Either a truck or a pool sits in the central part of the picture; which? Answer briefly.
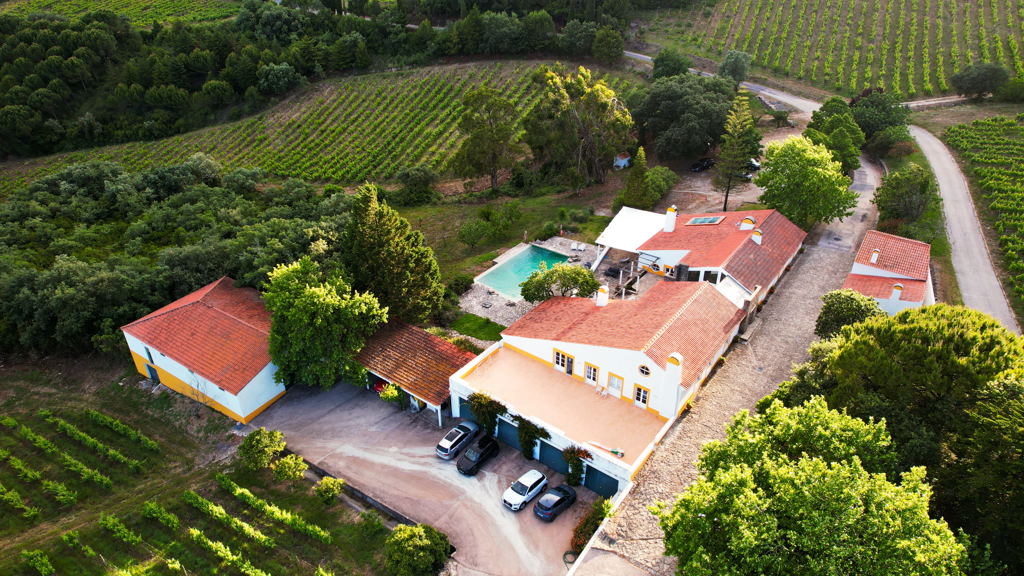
pool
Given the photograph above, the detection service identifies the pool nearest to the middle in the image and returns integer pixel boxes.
[473,239,574,296]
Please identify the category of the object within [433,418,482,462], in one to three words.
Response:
car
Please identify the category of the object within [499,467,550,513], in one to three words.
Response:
car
